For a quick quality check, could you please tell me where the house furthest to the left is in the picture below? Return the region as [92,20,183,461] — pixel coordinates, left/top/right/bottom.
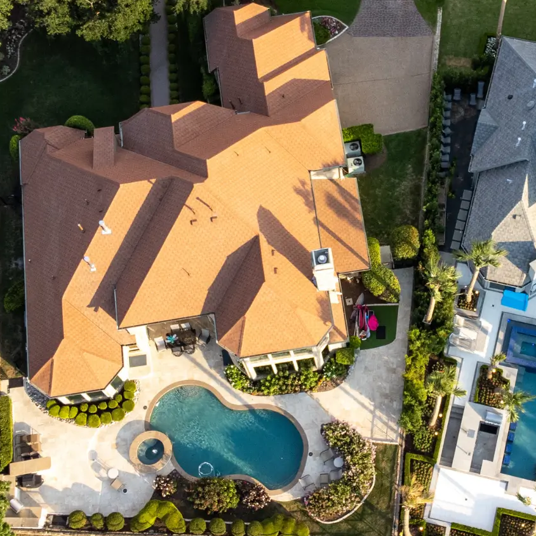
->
[19,2,370,403]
